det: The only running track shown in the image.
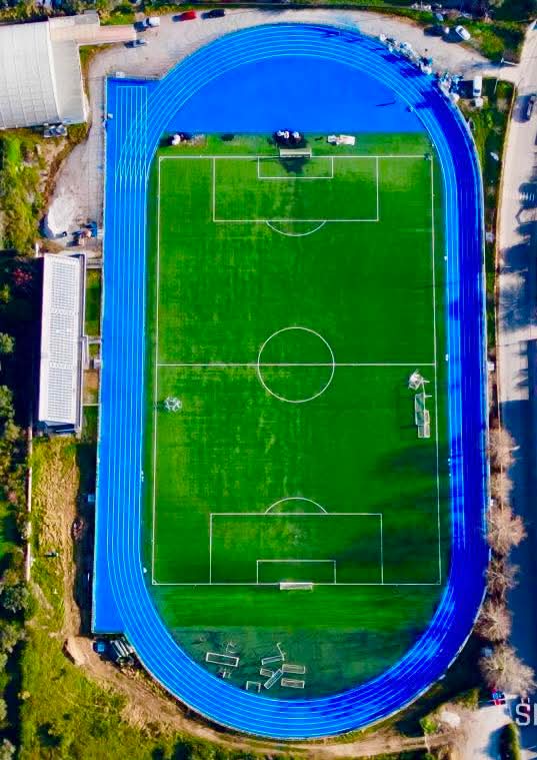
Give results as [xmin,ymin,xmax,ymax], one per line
[93,22,488,742]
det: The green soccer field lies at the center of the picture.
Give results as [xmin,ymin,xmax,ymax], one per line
[142,133,450,702]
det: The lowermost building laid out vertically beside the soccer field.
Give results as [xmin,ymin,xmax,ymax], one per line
[38,251,90,433]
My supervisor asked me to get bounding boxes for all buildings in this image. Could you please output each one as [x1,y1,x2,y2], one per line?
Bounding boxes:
[38,251,90,433]
[0,21,90,136]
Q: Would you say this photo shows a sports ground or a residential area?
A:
sports ground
